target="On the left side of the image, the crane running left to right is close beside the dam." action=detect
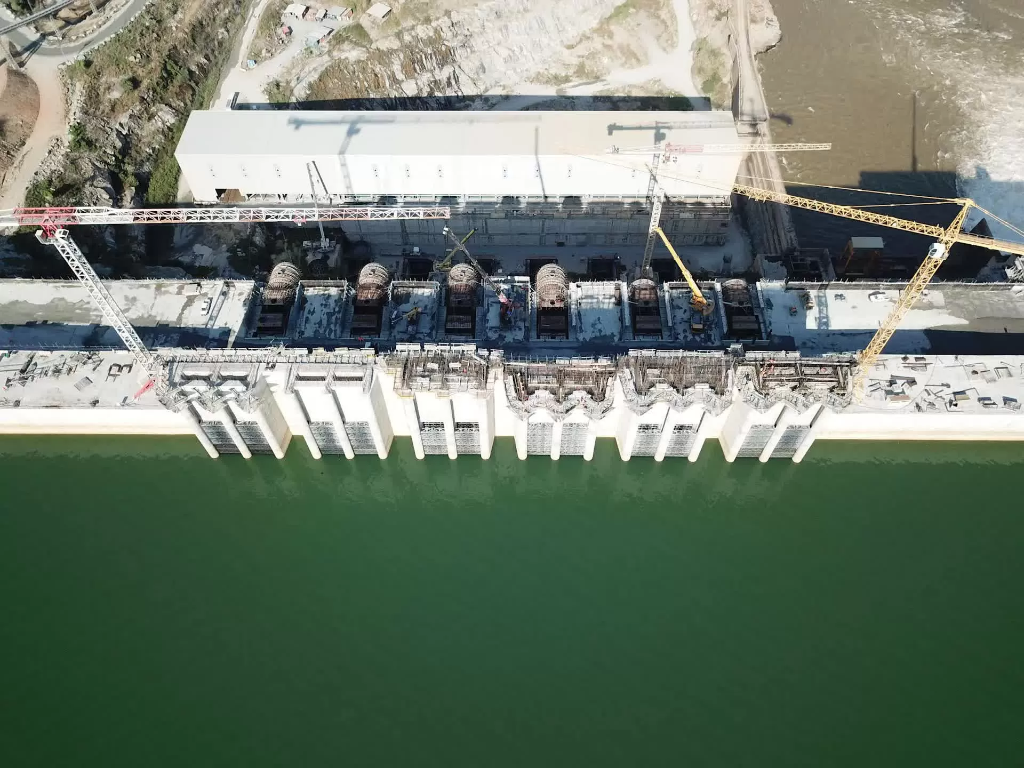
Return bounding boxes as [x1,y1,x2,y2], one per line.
[0,207,452,383]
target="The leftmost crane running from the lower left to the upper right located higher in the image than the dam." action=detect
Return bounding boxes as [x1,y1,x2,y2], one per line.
[435,229,481,270]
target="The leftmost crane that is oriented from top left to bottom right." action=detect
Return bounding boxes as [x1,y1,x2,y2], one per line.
[442,226,529,324]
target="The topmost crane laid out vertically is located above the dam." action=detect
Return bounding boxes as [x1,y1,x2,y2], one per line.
[307,160,333,250]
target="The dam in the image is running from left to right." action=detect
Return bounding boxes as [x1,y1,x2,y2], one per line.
[0,272,1024,441]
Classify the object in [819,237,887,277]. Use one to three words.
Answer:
container crane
